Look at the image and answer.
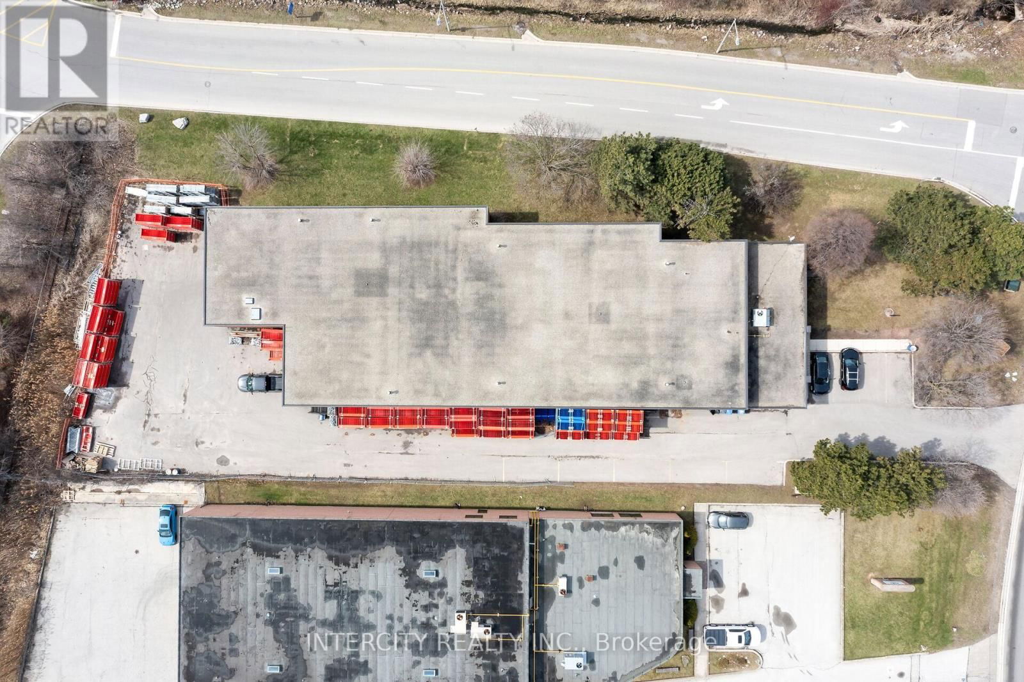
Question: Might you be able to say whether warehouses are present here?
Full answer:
Yes, you can see a warehouse in this photo.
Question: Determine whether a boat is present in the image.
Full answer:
No, there's no boat here.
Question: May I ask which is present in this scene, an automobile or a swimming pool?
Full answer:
The one in the frame is an automobile.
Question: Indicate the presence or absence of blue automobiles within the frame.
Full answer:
Yes, a blue automobile can be made out from above.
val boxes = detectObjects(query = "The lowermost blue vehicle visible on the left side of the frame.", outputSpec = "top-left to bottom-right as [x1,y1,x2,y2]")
[157,505,179,545]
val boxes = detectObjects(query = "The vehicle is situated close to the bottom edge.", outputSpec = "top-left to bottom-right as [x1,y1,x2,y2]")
[705,624,758,648]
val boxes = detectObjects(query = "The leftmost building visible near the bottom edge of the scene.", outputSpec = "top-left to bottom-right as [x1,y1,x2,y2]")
[180,504,529,682]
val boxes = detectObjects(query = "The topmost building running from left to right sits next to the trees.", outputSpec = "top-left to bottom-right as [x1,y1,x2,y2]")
[204,206,748,408]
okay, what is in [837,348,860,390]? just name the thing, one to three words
car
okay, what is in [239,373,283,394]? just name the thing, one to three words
truck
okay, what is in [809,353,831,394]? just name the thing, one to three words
car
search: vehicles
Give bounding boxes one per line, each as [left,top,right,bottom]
[809,353,831,394]
[239,373,283,394]
[837,348,860,390]
[705,624,758,648]
[157,505,179,545]
[707,510,749,531]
